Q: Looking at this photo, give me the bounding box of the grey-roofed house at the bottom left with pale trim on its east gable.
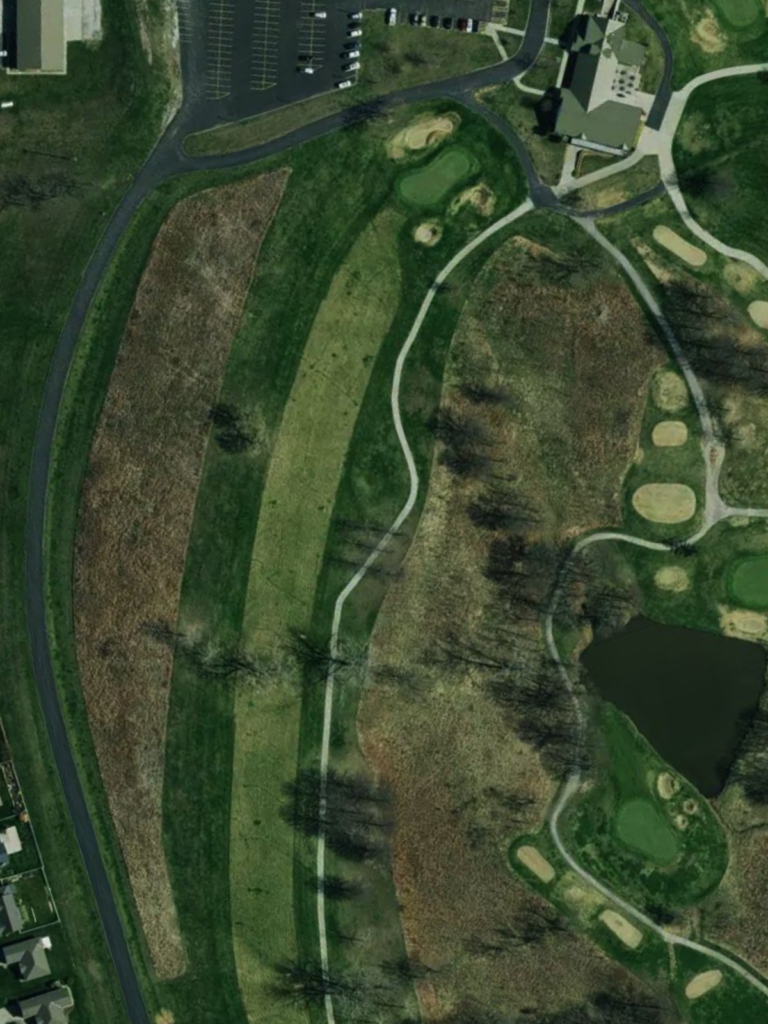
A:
[18,987,73,1024]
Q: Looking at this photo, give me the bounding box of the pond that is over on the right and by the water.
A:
[577,613,768,802]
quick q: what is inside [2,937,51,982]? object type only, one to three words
house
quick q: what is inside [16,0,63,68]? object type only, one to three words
barn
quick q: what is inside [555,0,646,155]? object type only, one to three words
building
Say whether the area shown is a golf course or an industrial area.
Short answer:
golf course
